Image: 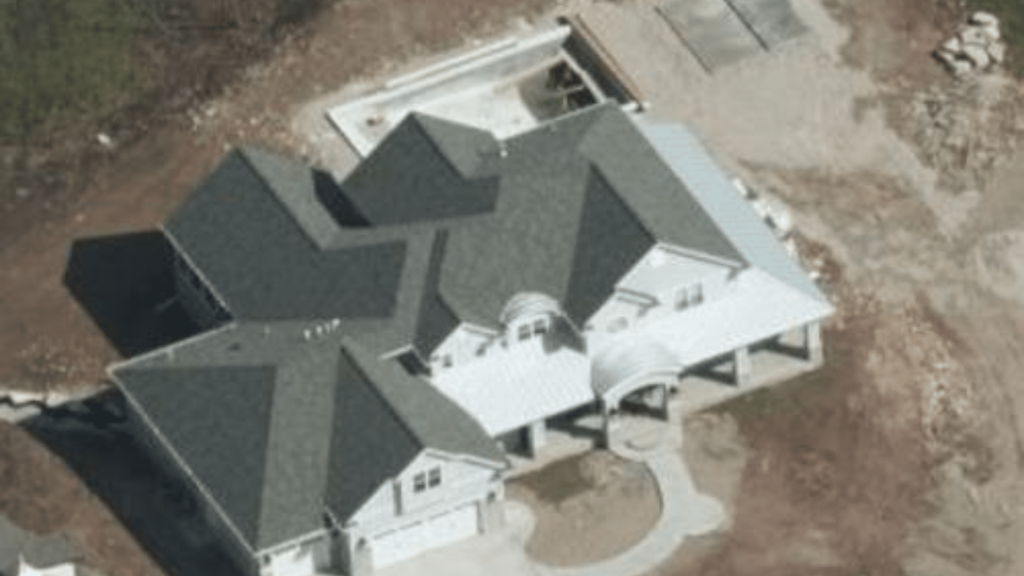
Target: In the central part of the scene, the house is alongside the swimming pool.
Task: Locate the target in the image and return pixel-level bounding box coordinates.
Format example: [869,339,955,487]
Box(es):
[107,97,836,576]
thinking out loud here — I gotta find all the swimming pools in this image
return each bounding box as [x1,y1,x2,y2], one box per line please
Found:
[330,27,606,161]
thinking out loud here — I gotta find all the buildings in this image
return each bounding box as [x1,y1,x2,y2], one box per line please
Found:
[0,510,72,576]
[107,97,836,576]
